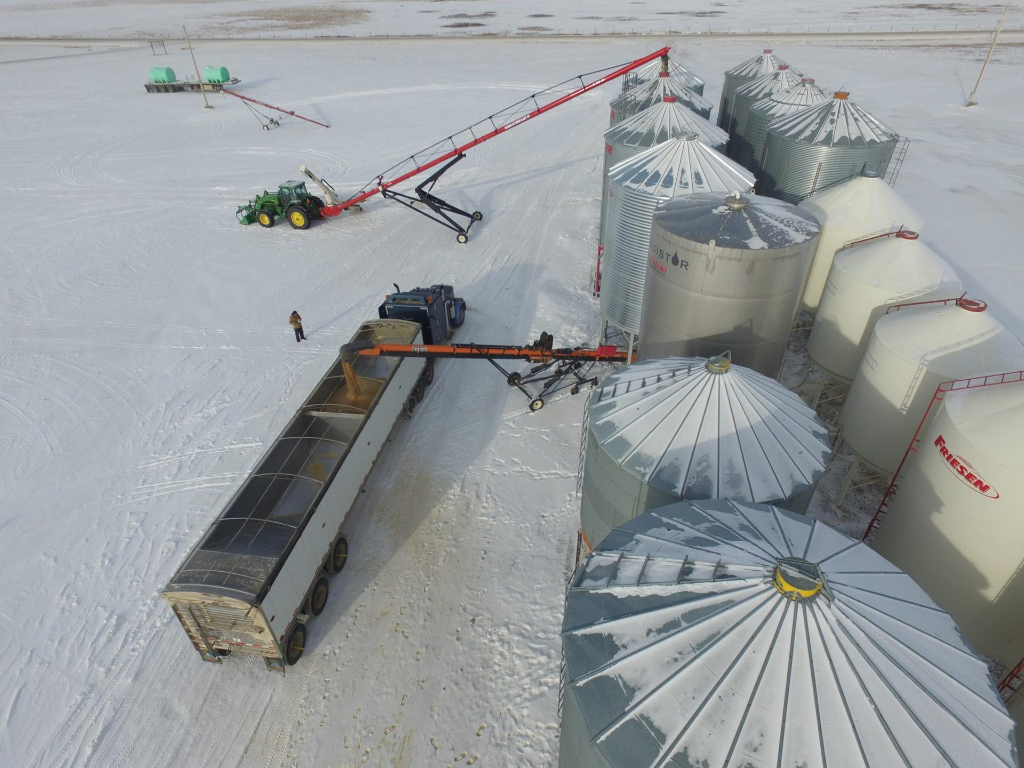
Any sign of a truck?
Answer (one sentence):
Yes, this view includes a truck.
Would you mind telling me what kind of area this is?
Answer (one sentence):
What you see here is an industrial area.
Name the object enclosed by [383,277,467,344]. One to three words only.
truck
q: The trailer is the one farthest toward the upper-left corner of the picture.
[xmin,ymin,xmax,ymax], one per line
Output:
[143,76,241,93]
